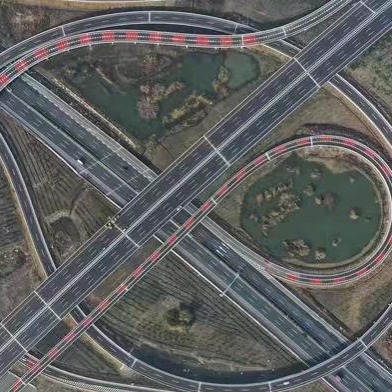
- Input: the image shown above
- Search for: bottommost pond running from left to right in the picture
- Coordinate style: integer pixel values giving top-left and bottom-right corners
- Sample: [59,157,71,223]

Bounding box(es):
[141,349,296,384]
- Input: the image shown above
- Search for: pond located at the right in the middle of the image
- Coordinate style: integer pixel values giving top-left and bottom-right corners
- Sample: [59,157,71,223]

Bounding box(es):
[243,157,381,263]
